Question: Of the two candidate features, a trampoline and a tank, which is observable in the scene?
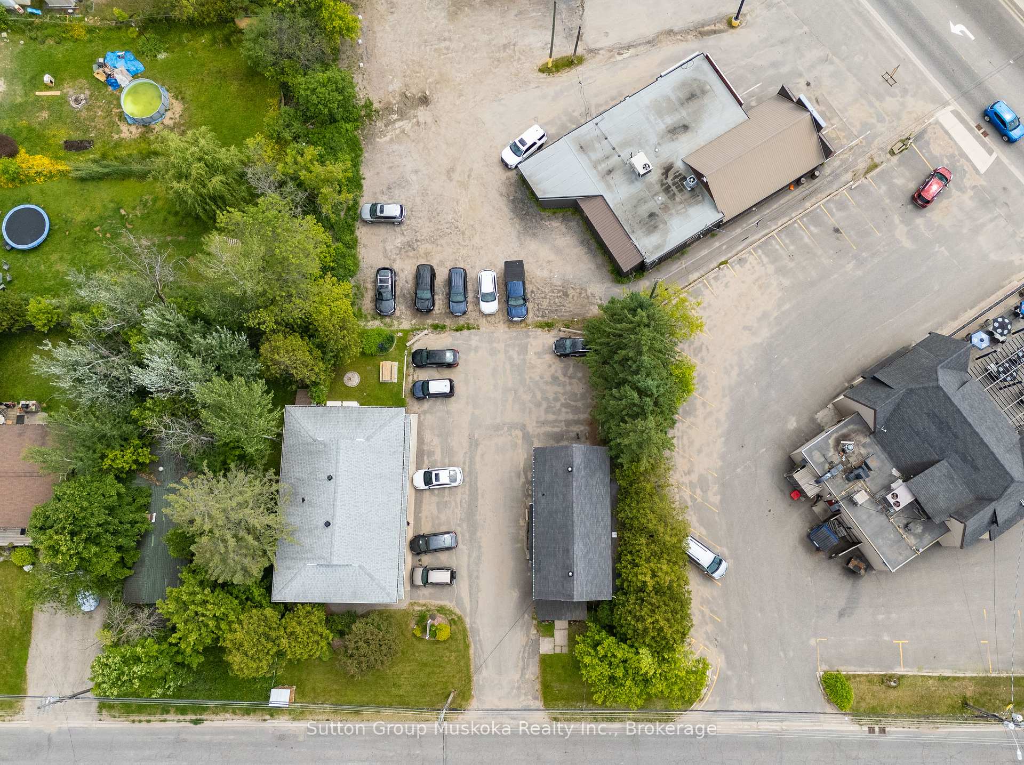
trampoline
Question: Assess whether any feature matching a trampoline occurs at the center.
No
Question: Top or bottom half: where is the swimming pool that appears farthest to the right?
top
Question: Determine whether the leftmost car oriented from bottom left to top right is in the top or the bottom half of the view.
top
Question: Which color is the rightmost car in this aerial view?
blue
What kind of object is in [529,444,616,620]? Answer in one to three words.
house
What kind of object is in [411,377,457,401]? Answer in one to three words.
car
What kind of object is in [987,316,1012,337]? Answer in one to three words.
umbrella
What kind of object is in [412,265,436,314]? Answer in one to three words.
car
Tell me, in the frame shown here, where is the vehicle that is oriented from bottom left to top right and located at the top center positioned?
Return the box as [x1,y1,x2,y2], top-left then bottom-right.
[502,125,548,167]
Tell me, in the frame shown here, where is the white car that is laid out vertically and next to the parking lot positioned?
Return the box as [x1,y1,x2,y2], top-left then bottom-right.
[477,270,499,315]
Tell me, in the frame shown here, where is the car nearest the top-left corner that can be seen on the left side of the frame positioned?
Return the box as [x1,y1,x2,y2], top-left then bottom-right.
[361,201,408,226]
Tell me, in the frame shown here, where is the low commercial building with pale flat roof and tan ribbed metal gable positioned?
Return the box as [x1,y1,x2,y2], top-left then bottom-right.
[518,49,837,276]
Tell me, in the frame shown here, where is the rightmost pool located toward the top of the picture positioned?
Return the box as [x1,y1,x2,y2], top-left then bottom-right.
[119,79,168,123]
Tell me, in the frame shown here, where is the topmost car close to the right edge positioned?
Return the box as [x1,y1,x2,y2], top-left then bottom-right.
[983,104,1024,143]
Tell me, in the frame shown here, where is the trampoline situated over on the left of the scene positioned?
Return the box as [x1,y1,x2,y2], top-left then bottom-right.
[1,205,55,250]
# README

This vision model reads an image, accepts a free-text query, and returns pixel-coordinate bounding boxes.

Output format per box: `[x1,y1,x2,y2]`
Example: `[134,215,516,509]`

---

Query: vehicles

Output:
[912,169,951,209]
[408,530,460,557]
[410,564,458,590]
[551,334,600,359]
[983,104,1024,143]
[504,260,529,321]
[477,270,499,315]
[446,268,470,316]
[411,347,461,370]
[361,201,408,226]
[502,125,548,167]
[412,466,465,491]
[373,267,397,316]
[679,535,731,581]
[412,265,436,314]
[411,377,457,401]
